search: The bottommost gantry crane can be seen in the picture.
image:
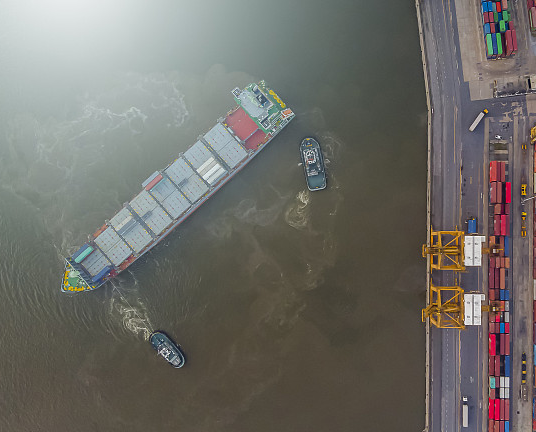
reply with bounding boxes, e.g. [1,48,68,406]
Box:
[419,276,502,327]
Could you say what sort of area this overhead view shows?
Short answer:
port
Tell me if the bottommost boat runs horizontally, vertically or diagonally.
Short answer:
diagonally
